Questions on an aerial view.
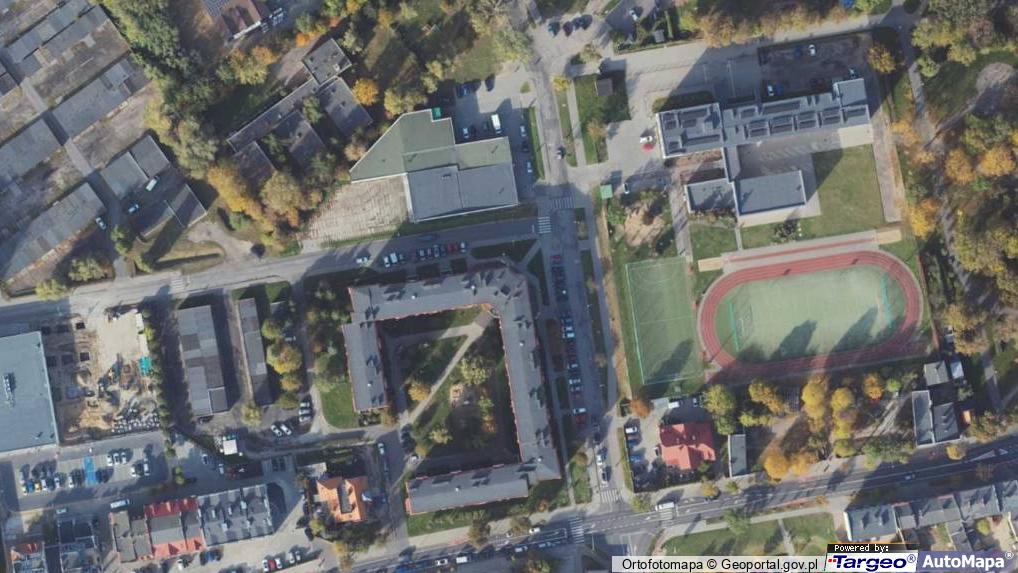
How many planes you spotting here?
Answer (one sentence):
The picture shows no planes.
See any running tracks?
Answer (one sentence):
Yes, I can see a running track in this picture.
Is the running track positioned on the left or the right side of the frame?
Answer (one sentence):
You can find the running track on the right side of the picture.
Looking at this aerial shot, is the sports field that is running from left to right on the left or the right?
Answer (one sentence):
The sports field that is running from left to right appears in the right half of the scene.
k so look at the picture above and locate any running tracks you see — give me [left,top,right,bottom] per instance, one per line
[698,250,929,381]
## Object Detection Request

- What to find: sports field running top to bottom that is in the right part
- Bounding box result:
[627,257,702,383]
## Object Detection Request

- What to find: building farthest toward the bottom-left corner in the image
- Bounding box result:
[11,541,51,573]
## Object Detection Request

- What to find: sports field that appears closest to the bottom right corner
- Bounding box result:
[718,268,904,362]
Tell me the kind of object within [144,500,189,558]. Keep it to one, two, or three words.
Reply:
house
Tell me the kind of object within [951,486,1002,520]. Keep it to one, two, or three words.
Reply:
house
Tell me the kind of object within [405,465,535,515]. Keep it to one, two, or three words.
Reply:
building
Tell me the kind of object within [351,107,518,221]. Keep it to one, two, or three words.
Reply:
building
